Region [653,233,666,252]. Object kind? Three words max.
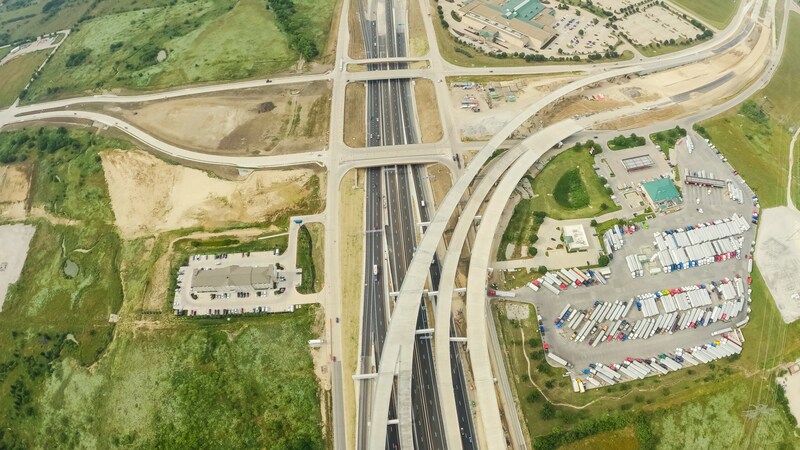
vehicle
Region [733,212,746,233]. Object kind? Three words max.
vehicle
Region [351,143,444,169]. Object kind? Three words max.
overpass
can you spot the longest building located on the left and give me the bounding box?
[191,262,277,297]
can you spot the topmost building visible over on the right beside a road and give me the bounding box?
[459,0,559,56]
